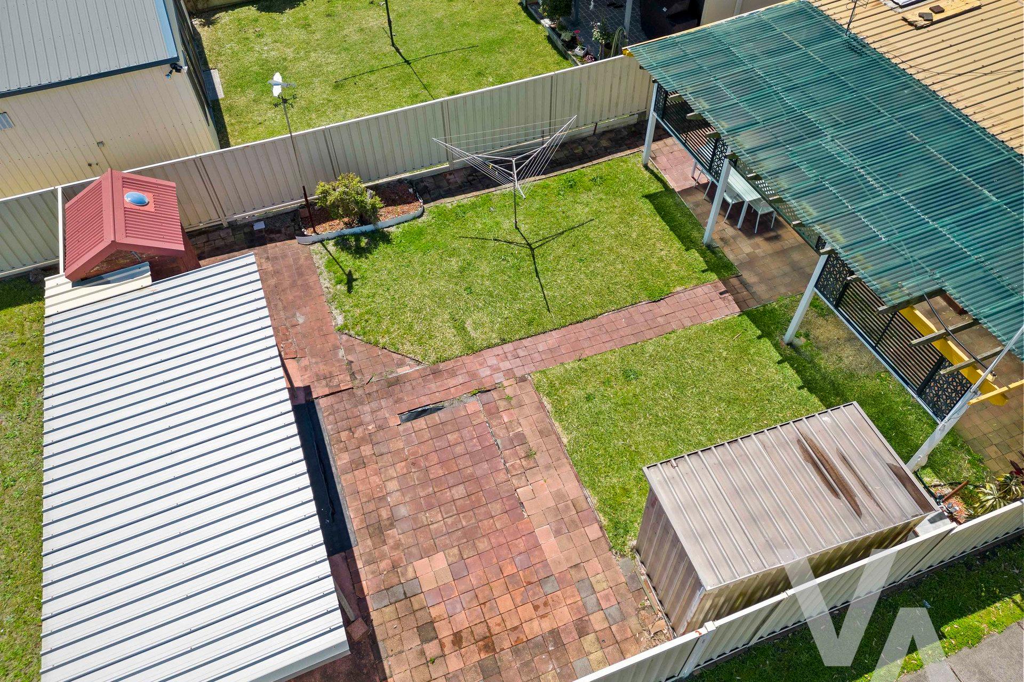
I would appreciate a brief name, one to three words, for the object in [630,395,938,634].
shed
